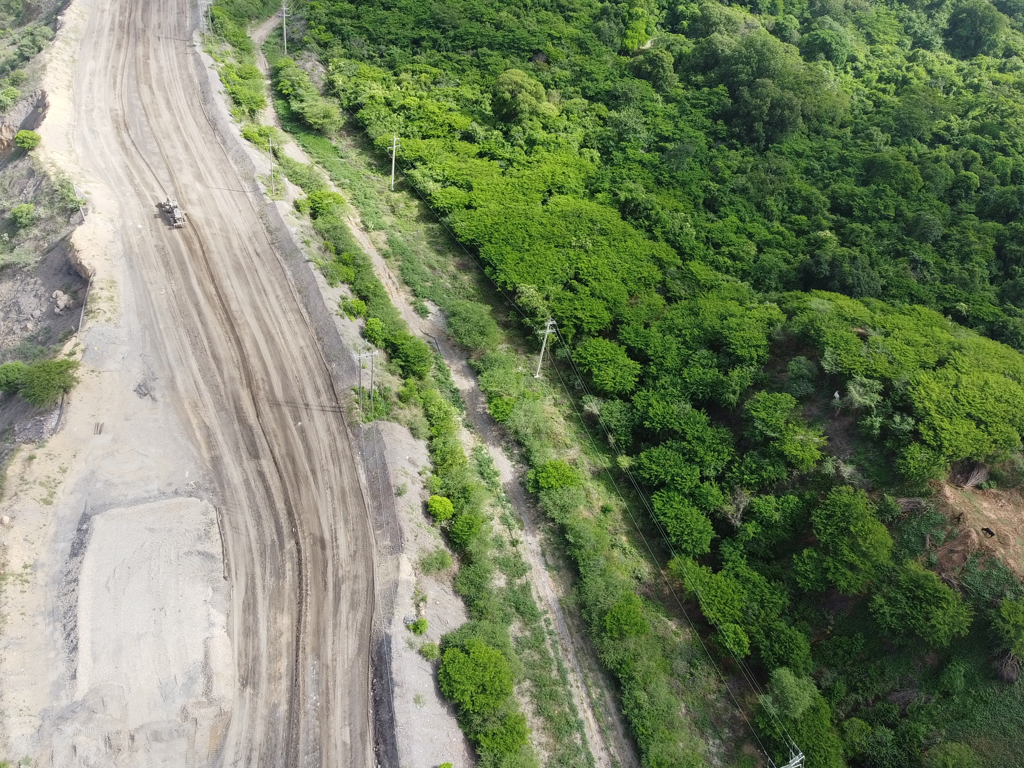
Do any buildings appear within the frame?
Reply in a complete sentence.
No, there is no building in the image.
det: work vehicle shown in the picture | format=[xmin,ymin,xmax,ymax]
[158,192,189,228]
